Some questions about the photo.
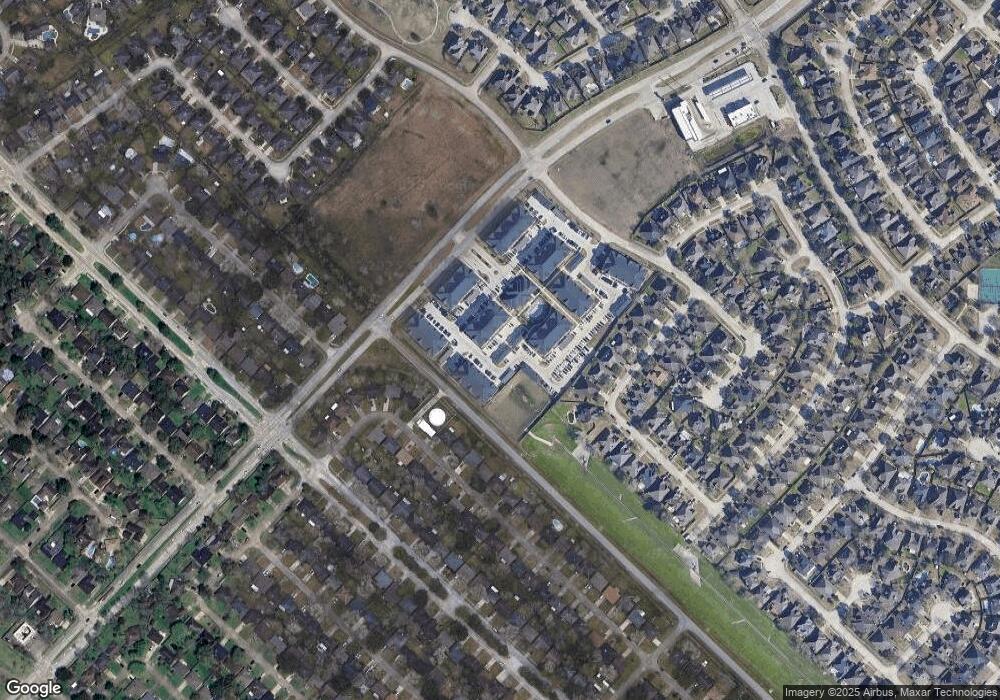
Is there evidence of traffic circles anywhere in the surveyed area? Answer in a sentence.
No, no traffic circle can be seen from above.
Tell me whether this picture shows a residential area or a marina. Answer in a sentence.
The picture captures a residential area.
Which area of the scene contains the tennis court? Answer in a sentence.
The tennis court is located in the right region of the scene.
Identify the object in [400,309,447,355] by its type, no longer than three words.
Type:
building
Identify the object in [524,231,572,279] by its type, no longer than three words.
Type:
building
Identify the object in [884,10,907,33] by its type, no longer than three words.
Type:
house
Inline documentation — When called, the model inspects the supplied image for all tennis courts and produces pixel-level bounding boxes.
[978,268,1000,303]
